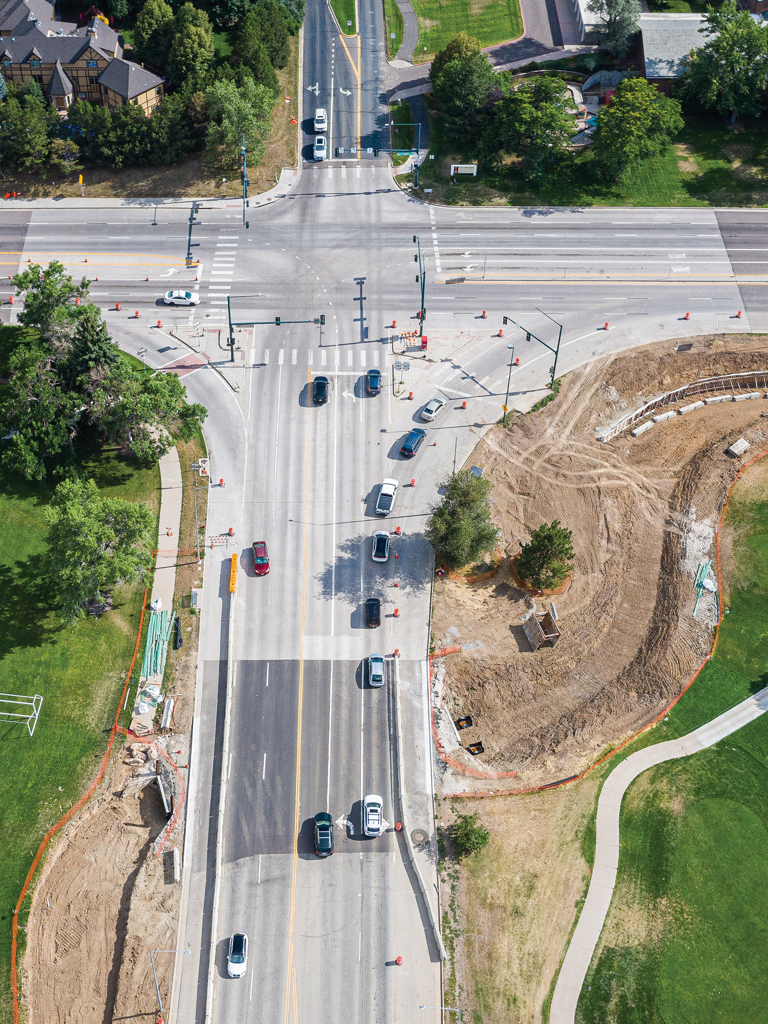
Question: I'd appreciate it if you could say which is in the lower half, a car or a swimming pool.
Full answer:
Visible in the lower half is a car.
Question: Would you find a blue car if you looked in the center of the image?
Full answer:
Yes, you'll find a blue car in the center of the image.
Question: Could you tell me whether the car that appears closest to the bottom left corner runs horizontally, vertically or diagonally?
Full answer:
The car that appears closest to the bottom left corner has been laid out vertically relative to the frame.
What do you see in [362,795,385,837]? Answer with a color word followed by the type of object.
white car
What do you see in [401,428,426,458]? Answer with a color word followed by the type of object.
blue car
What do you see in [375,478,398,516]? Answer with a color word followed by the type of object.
white truck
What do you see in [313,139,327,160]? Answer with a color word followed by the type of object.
white car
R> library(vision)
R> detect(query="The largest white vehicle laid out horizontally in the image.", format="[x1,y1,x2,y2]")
[162,289,200,305]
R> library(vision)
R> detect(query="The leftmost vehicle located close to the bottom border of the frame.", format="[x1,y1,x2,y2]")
[225,931,249,979]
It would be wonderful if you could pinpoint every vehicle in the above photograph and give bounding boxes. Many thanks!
[362,795,385,837]
[375,478,398,516]
[314,110,328,132]
[225,931,249,979]
[252,542,271,575]
[367,653,387,689]
[401,428,426,458]
[372,531,391,563]
[312,377,330,403]
[312,812,335,858]
[162,289,200,305]
[366,370,383,396]
[420,396,447,422]
[313,139,327,160]
[364,598,383,630]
